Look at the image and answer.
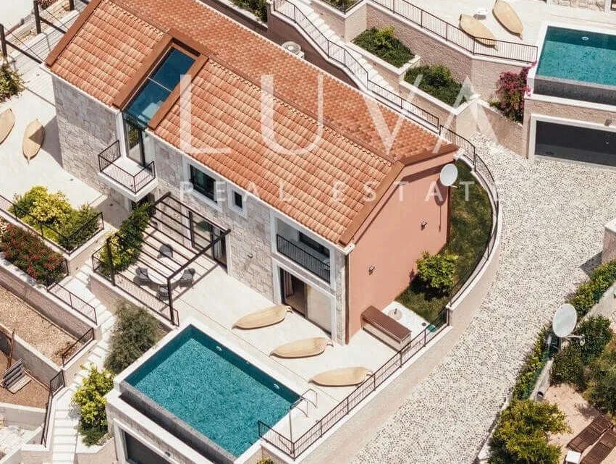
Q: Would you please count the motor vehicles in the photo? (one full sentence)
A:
No motor vehicles are visible.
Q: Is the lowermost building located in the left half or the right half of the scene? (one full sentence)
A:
The lowermost building appears in the left half of the scene.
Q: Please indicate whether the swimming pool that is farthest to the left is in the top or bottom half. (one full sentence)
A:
Seen from above, the swimming pool that is farthest to the left lies in the bottom half of the view.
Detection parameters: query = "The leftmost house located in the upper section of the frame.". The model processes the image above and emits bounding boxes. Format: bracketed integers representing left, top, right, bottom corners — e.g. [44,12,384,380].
[38,0,461,346]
